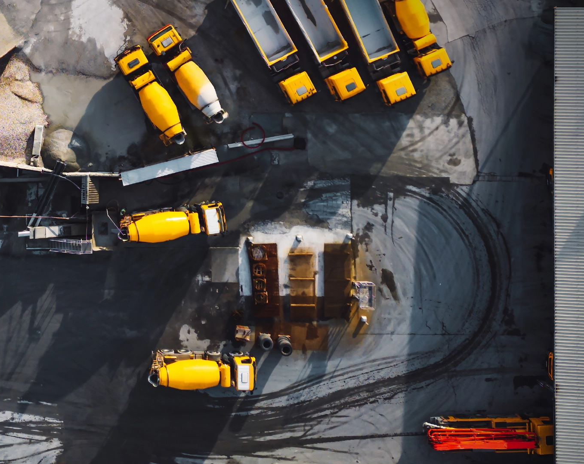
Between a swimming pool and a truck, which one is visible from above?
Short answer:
truck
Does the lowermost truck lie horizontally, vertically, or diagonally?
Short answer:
horizontally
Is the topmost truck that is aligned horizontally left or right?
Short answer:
left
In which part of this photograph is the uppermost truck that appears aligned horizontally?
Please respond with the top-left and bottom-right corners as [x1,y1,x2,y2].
[116,199,229,241]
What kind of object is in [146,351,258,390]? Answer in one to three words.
truck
